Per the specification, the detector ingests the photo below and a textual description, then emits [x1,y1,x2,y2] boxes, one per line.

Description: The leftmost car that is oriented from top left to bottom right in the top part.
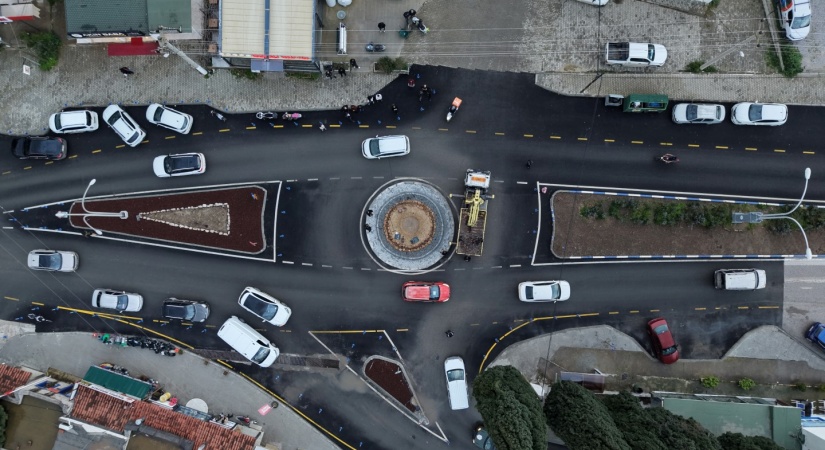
[104,103,149,149]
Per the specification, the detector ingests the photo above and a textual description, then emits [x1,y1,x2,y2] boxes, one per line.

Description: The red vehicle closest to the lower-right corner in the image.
[646,315,679,365]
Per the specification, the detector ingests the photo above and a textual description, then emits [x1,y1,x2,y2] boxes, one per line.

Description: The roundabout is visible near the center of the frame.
[361,177,458,275]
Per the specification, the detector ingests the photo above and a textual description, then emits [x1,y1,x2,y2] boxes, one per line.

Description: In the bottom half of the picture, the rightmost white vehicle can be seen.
[713,268,765,291]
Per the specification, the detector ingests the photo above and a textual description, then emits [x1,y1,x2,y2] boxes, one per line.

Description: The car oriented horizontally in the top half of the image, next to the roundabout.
[361,135,411,159]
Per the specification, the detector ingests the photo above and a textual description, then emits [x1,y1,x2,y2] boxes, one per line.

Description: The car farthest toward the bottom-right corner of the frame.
[805,319,825,350]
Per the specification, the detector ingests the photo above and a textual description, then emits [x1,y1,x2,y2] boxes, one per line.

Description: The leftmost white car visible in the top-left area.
[50,109,102,133]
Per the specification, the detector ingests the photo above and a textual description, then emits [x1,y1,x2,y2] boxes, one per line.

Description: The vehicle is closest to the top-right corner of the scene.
[780,0,815,43]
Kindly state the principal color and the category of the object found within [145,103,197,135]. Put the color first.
white car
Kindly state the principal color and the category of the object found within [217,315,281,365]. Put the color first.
white van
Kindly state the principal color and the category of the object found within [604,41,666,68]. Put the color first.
white truck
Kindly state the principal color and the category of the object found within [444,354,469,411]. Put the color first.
white car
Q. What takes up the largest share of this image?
paved ground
